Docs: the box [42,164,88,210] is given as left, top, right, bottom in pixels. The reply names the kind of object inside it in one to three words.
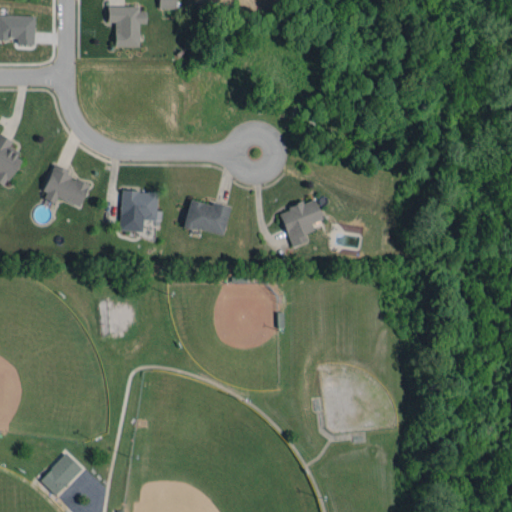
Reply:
house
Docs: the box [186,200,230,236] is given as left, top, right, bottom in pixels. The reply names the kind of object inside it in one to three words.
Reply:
house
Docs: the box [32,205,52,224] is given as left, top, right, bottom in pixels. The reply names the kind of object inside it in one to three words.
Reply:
swimming pool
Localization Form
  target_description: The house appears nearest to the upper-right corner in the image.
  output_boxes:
[280,199,326,248]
